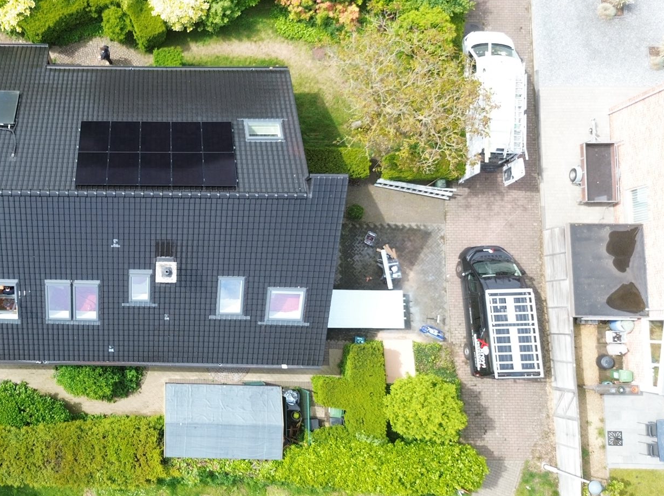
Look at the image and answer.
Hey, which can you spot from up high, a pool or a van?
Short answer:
van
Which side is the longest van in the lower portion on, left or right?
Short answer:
right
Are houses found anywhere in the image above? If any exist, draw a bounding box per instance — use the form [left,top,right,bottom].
[609,88,664,389]
[0,41,349,373]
